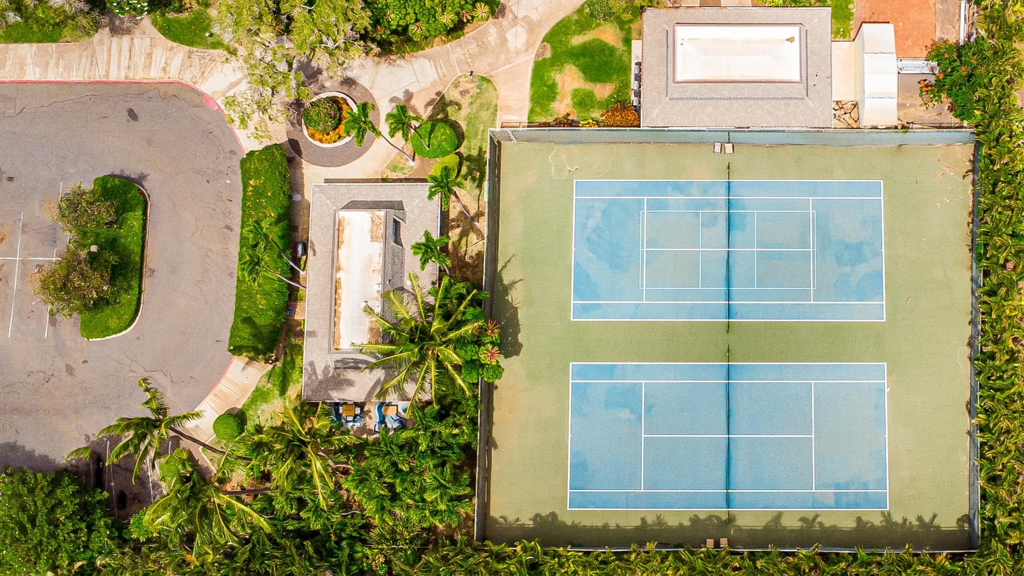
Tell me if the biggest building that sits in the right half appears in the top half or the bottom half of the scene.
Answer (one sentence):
You can find the biggest building that sits in the right half in the top half.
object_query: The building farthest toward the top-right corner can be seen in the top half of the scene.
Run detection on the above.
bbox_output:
[851,23,897,132]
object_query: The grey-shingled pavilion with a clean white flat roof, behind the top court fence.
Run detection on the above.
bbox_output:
[640,6,834,129]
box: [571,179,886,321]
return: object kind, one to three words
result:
tennis court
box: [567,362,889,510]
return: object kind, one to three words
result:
tennis court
